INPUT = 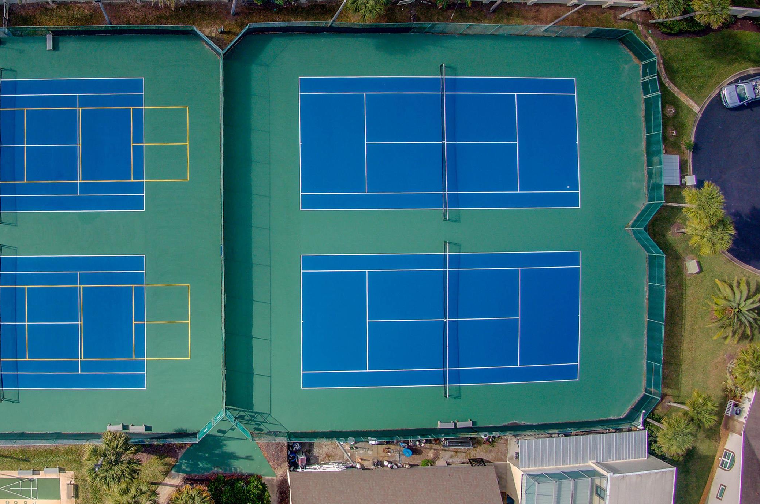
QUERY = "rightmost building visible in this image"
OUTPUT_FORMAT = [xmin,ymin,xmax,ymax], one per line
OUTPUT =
[708,393,760,504]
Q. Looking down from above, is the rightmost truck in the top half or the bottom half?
top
